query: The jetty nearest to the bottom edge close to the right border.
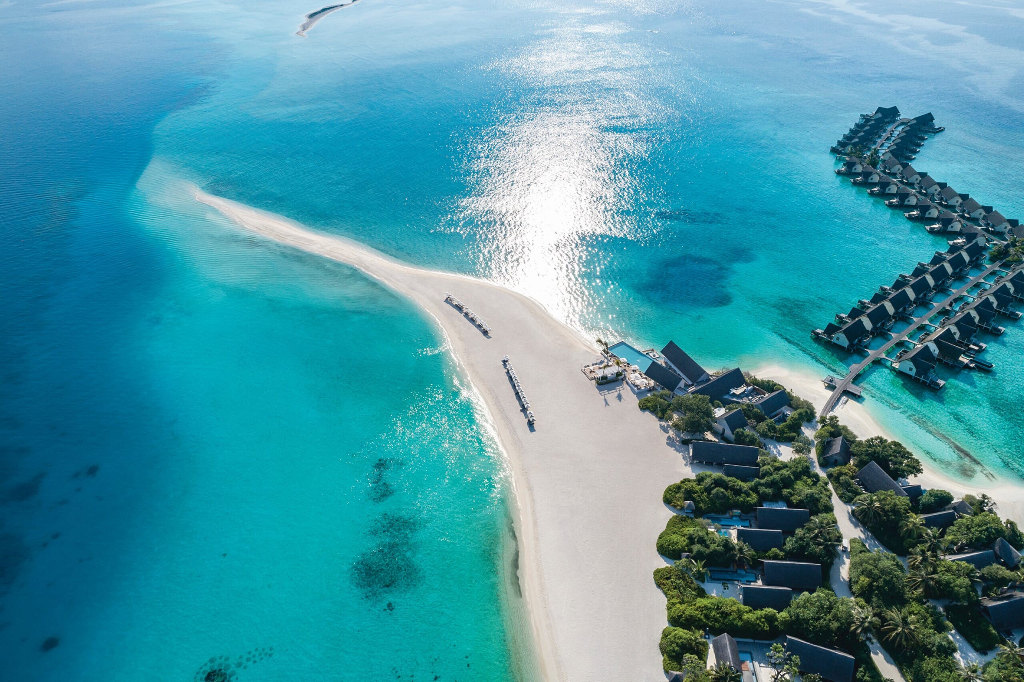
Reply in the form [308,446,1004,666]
[814,249,1023,429]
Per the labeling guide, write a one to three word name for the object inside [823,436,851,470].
shed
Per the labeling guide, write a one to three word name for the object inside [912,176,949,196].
house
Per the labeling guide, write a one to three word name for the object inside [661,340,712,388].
building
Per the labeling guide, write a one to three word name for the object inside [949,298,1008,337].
house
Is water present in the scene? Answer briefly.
Yes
